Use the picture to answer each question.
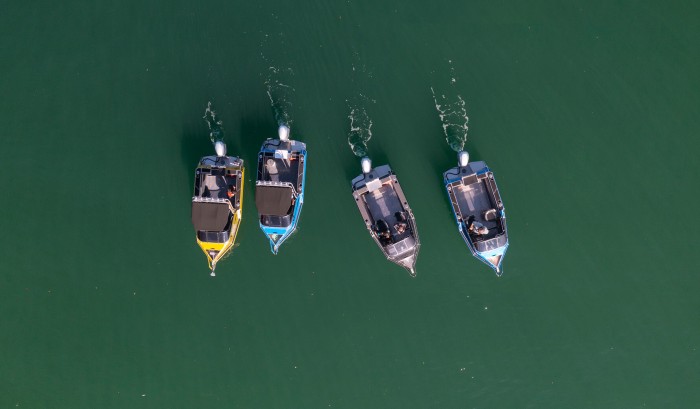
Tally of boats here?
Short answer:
4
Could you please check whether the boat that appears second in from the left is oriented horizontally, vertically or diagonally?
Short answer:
vertically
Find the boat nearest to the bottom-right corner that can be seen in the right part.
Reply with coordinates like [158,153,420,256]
[444,150,509,276]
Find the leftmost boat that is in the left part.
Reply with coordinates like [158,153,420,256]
[191,140,245,275]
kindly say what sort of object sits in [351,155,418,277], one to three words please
boat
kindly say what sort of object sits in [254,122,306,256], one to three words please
boat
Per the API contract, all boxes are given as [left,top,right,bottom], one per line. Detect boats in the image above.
[191,140,245,275]
[351,155,418,277]
[254,122,306,256]
[444,150,509,276]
